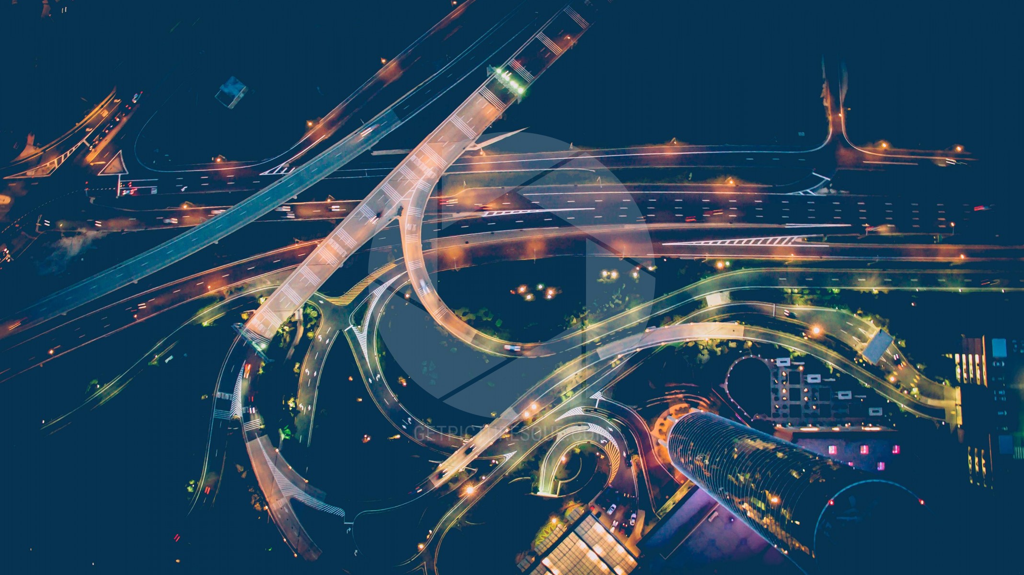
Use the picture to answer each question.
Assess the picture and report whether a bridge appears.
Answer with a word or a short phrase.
Yes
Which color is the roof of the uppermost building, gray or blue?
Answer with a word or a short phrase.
blue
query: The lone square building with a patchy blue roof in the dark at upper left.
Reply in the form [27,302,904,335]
[215,76,252,112]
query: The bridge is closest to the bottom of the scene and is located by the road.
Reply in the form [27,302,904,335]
[245,433,338,560]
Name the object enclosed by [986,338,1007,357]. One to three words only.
building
